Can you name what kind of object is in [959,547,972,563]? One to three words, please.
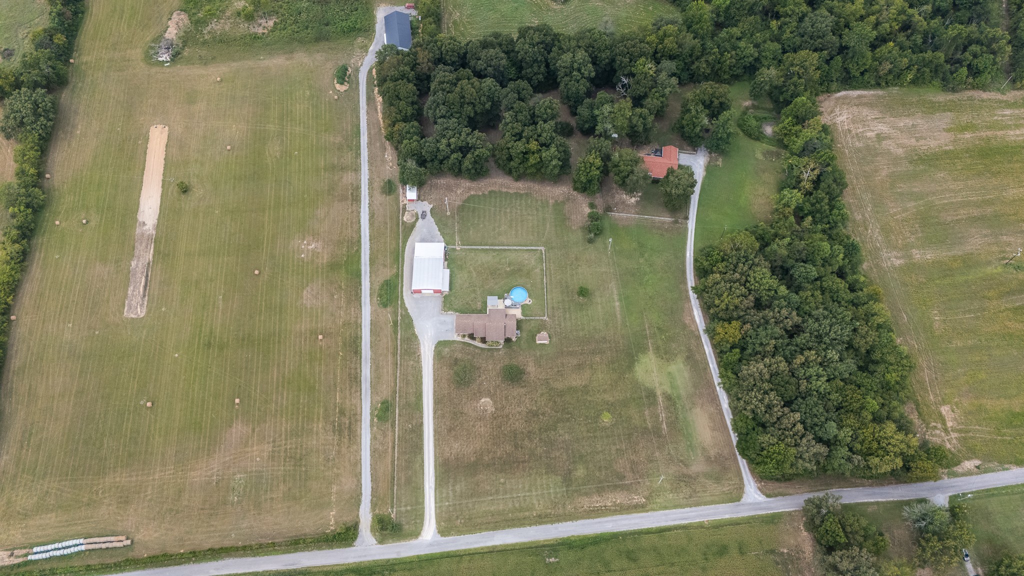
vehicle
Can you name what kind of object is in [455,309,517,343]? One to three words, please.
house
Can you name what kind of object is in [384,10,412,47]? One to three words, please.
barn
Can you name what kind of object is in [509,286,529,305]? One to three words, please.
swimming pool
